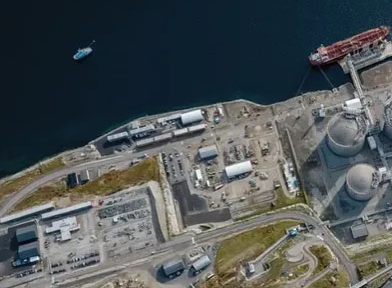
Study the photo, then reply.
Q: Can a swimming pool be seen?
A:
No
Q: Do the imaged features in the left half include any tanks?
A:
No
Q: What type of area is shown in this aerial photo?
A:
port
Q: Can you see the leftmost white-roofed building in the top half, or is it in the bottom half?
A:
bottom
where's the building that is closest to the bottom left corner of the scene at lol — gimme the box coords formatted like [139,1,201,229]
[15,241,40,261]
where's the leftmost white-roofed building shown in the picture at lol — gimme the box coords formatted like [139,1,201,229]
[0,203,56,225]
